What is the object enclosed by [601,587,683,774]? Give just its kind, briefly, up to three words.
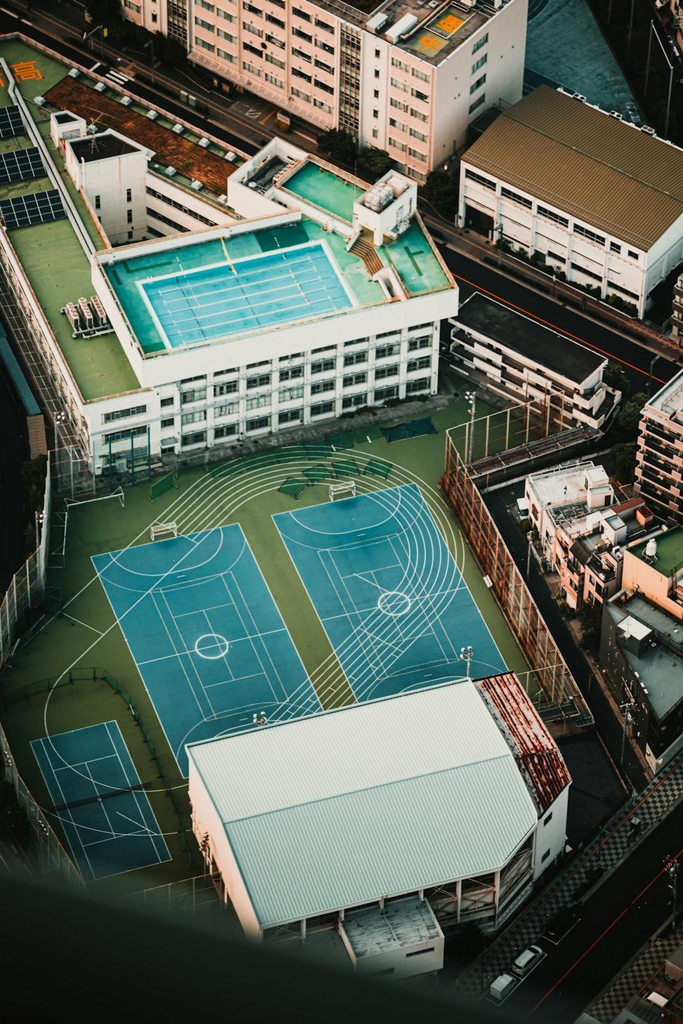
building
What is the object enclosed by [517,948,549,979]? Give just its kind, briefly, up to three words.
car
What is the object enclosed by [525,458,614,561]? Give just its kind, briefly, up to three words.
house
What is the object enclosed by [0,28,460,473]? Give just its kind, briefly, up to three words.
building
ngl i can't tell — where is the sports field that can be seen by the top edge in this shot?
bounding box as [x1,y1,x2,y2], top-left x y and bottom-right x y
[533,0,644,129]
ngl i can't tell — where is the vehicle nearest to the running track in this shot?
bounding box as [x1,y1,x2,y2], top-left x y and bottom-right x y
[510,493,528,526]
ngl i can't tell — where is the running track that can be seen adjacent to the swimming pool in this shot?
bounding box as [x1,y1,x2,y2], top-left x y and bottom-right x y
[0,435,466,839]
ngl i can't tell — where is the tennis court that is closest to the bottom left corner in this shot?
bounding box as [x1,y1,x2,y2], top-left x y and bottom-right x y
[31,720,172,876]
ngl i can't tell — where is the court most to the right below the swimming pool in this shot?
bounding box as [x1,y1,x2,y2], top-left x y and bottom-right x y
[274,483,507,696]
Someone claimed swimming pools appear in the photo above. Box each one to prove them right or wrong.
[104,218,450,358]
